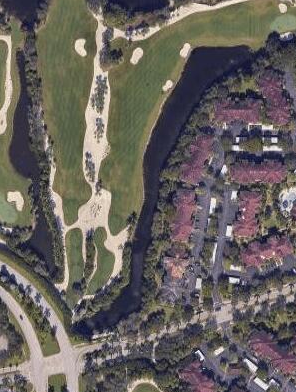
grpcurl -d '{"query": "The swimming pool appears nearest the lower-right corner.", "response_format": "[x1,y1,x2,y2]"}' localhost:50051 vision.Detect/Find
[279,188,296,217]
